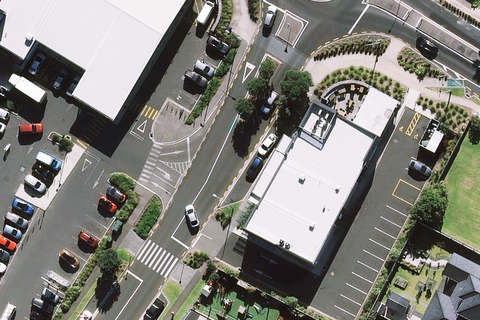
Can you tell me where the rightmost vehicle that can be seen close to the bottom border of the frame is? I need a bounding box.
[144,298,164,320]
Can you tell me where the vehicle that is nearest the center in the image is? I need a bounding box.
[244,156,264,181]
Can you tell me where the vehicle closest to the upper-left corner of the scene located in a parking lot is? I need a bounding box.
[28,52,46,76]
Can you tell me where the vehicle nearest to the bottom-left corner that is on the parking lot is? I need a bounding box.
[0,302,16,320]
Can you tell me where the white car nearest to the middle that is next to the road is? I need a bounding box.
[258,132,276,156]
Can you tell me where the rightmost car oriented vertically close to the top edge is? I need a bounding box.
[262,7,276,29]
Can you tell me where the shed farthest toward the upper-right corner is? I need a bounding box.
[418,119,444,154]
